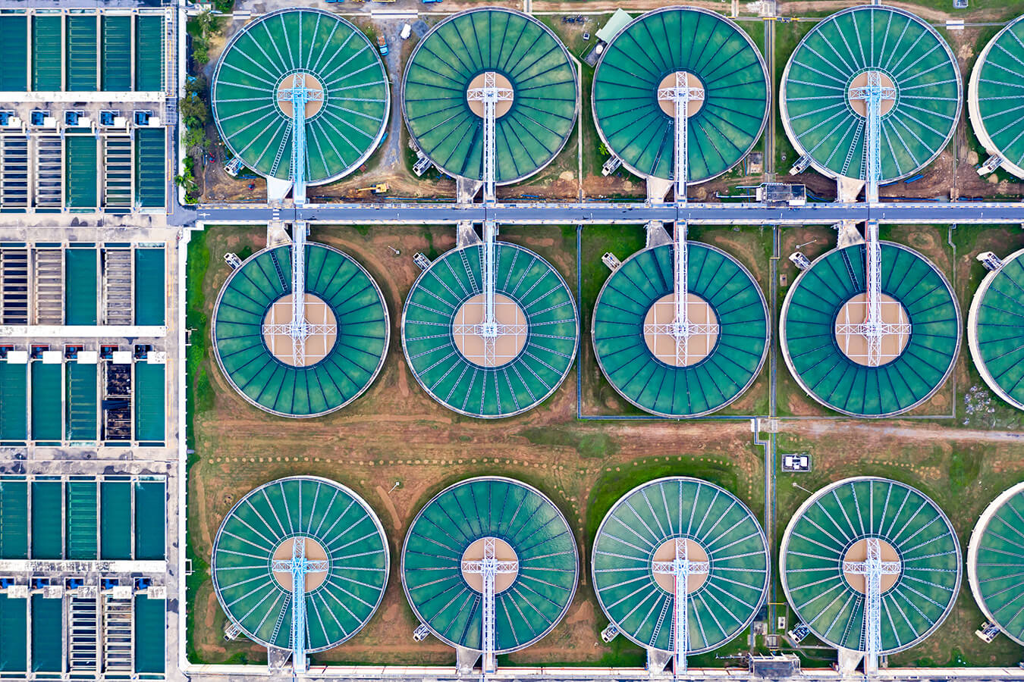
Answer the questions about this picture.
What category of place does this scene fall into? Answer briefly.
industrial area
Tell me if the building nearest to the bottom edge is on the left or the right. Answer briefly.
right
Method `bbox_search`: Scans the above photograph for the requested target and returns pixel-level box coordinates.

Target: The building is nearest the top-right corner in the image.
[756,184,806,206]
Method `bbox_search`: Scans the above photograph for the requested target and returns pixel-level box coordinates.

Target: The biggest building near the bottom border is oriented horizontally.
[747,653,800,677]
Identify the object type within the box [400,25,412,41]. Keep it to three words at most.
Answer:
vehicle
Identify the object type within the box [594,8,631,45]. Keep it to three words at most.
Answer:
shed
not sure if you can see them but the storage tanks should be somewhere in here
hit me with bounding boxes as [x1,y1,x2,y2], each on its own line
[591,474,771,656]
[969,16,1024,180]
[401,240,580,419]
[591,5,771,187]
[591,240,771,419]
[969,481,1024,645]
[401,5,580,187]
[780,474,963,656]
[401,474,580,656]
[211,5,392,187]
[780,240,963,419]
[211,240,392,419]
[969,248,1024,411]
[779,5,963,187]
[211,474,392,656]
